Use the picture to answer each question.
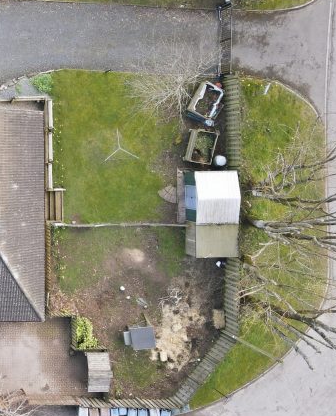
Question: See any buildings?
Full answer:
Yes, the image includes a building.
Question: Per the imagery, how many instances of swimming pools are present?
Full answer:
The photo contains no swimming pools.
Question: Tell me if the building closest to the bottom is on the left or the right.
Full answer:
The building closest to the bottom appears in the left half of the scene.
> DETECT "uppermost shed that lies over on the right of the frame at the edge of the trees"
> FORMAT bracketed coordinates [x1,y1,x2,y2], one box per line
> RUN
[184,170,243,223]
